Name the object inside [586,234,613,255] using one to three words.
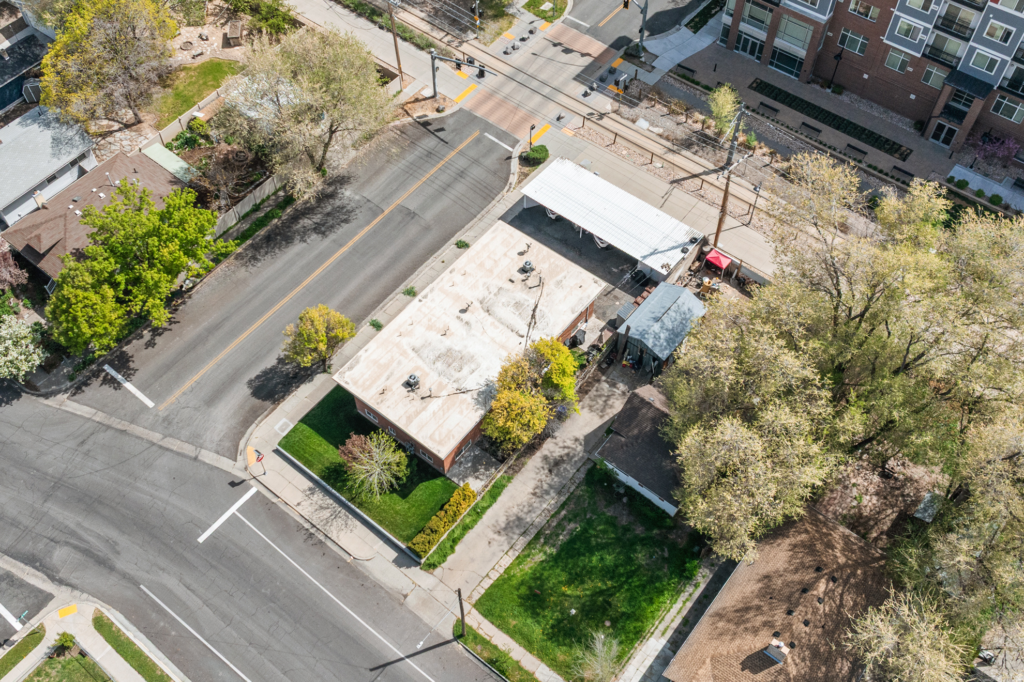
car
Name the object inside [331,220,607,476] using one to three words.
building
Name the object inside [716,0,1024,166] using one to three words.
building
